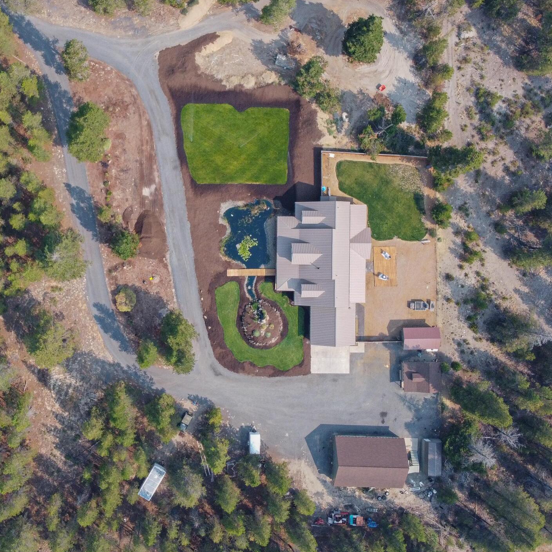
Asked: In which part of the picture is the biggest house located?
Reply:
center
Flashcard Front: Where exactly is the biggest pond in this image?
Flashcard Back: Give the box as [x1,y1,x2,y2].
[225,199,272,267]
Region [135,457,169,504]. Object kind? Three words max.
trailer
